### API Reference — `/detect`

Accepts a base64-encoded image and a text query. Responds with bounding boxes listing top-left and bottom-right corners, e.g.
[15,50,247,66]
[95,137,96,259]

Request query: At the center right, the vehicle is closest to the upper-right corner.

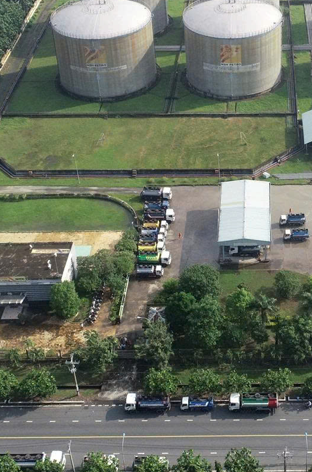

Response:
[281,212,305,225]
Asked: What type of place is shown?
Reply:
industrial area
